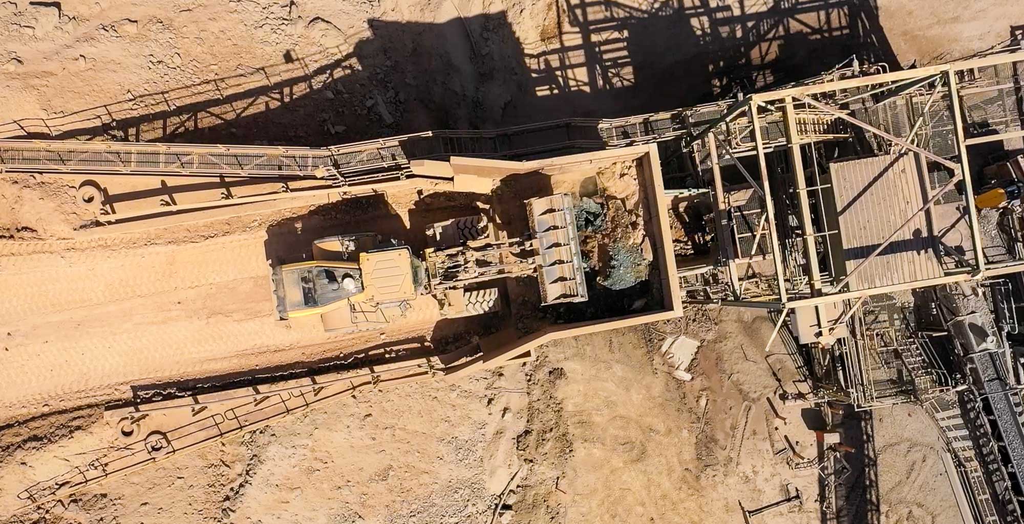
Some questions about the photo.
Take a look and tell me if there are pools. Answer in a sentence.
No, this view has no pool in it.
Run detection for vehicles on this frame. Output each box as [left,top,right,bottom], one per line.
[272,195,587,333]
